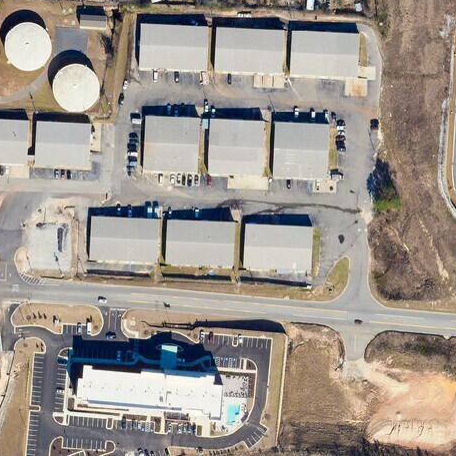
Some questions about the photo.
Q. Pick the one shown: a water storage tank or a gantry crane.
water storage tank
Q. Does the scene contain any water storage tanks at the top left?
Yes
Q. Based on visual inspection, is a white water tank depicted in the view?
Yes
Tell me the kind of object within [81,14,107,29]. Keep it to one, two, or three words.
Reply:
shed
